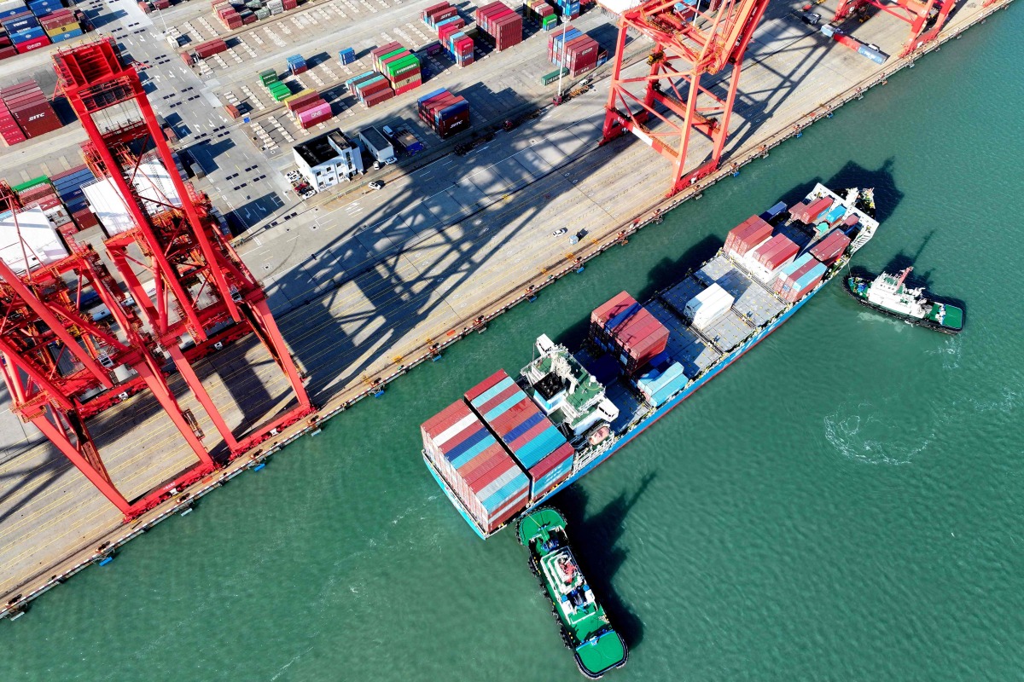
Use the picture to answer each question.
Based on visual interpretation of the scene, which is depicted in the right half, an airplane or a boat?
boat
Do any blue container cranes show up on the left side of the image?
No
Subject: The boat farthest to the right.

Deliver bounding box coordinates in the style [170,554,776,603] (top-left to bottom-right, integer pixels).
[842,259,968,337]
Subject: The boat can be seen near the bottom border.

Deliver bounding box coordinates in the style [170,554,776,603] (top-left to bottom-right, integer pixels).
[514,511,635,682]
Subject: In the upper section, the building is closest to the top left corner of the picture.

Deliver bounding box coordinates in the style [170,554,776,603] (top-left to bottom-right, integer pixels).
[293,129,364,191]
